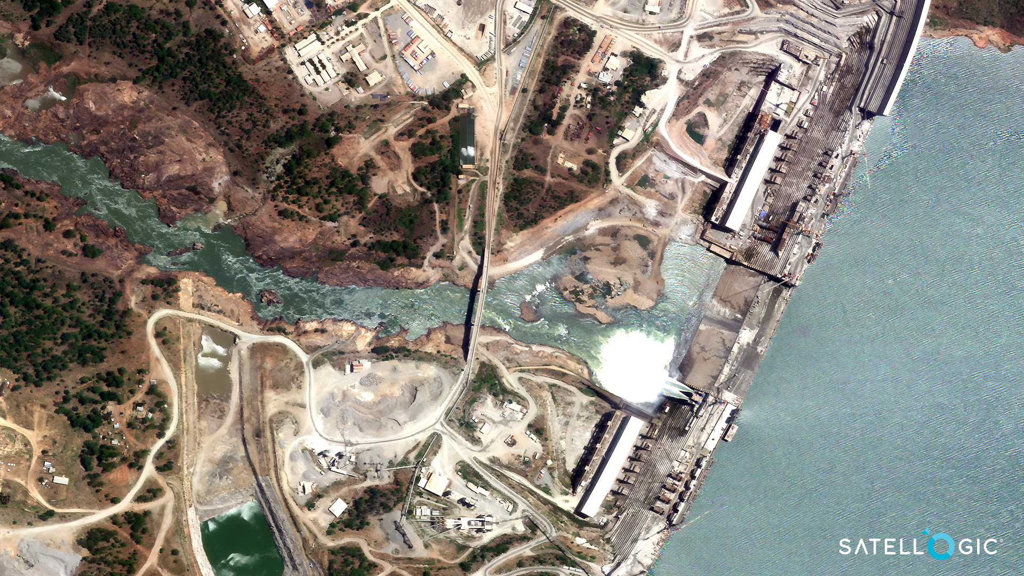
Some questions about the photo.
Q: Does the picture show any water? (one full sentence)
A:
Yes, the picture does contain water.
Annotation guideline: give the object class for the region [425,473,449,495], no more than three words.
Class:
building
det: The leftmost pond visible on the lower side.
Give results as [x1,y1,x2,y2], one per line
[198,329,236,395]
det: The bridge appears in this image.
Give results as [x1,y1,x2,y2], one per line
[465,244,490,366]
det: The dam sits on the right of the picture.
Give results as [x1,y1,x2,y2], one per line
[577,0,931,576]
